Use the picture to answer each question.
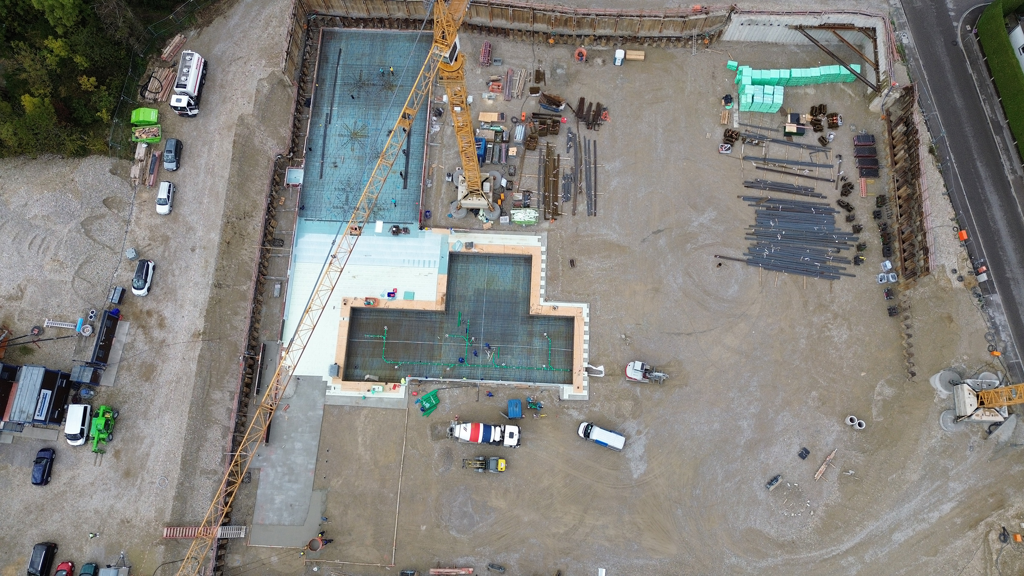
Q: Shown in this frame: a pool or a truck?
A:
truck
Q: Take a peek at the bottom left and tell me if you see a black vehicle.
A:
Yes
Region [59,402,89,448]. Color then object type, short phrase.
white van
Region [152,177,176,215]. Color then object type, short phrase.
white car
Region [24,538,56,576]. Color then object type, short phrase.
black van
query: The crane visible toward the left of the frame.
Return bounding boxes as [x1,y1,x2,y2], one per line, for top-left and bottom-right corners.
[174,0,494,576]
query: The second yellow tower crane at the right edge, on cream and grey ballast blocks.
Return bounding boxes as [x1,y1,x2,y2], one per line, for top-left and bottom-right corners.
[952,379,1024,423]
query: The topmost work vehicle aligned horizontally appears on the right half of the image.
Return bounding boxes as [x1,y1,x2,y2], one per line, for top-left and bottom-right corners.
[625,361,678,388]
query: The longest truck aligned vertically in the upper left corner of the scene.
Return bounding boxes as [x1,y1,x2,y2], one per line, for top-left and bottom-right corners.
[162,40,203,115]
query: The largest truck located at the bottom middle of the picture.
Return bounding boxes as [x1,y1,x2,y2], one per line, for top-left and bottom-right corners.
[445,423,528,451]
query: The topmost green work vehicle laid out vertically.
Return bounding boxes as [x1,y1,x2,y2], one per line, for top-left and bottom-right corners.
[85,404,118,464]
